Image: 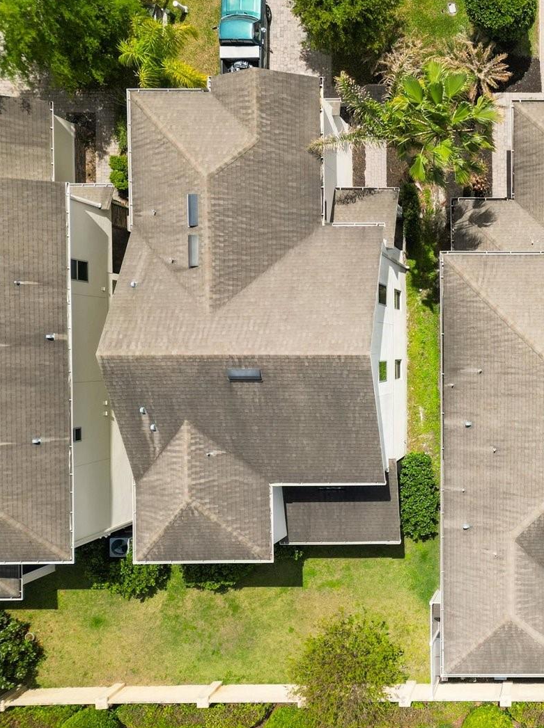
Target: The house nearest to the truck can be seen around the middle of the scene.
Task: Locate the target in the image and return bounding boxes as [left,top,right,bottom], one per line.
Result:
[97,70,406,565]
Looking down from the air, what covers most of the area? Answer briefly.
buildings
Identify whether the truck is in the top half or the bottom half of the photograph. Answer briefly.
top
